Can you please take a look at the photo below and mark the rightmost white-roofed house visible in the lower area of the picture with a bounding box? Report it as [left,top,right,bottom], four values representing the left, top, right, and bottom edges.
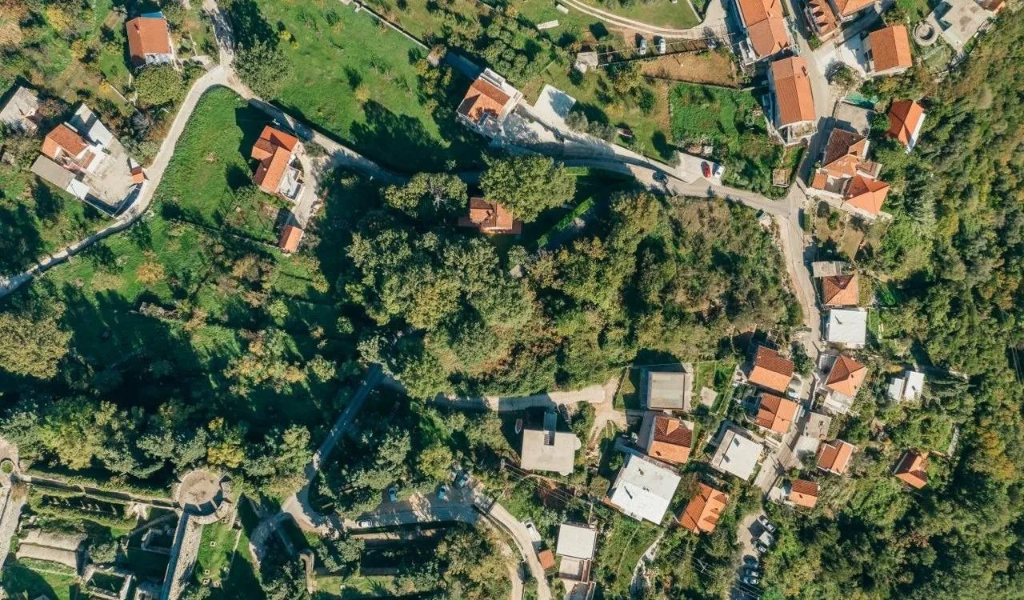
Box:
[882,370,925,402]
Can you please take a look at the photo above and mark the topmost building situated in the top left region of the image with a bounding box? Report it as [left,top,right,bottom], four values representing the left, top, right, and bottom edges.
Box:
[126,10,178,69]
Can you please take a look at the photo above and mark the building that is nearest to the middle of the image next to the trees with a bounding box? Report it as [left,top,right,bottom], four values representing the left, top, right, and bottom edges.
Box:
[458,197,522,235]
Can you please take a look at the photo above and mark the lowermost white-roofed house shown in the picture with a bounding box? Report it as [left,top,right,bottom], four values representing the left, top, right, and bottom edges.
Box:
[557,520,595,600]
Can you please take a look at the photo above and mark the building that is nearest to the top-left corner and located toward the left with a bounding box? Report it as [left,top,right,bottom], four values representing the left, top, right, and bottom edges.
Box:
[0,86,51,132]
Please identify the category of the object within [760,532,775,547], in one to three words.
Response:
vehicle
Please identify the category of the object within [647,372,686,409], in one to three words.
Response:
building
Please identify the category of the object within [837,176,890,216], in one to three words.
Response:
house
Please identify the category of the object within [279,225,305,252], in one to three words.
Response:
barn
